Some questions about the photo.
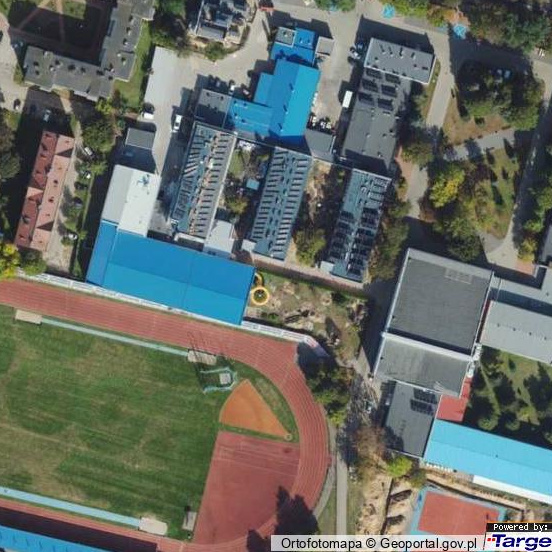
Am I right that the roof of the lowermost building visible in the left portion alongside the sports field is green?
No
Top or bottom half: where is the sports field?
bottom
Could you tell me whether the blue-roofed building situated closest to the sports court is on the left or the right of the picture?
right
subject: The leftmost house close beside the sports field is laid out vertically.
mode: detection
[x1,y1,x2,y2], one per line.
[14,130,76,253]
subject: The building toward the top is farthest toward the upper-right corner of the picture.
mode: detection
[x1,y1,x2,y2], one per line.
[364,38,436,87]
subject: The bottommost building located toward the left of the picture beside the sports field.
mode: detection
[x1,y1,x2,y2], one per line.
[88,220,256,326]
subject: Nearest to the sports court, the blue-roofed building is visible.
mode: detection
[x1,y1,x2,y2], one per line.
[423,419,552,505]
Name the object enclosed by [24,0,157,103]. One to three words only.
building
